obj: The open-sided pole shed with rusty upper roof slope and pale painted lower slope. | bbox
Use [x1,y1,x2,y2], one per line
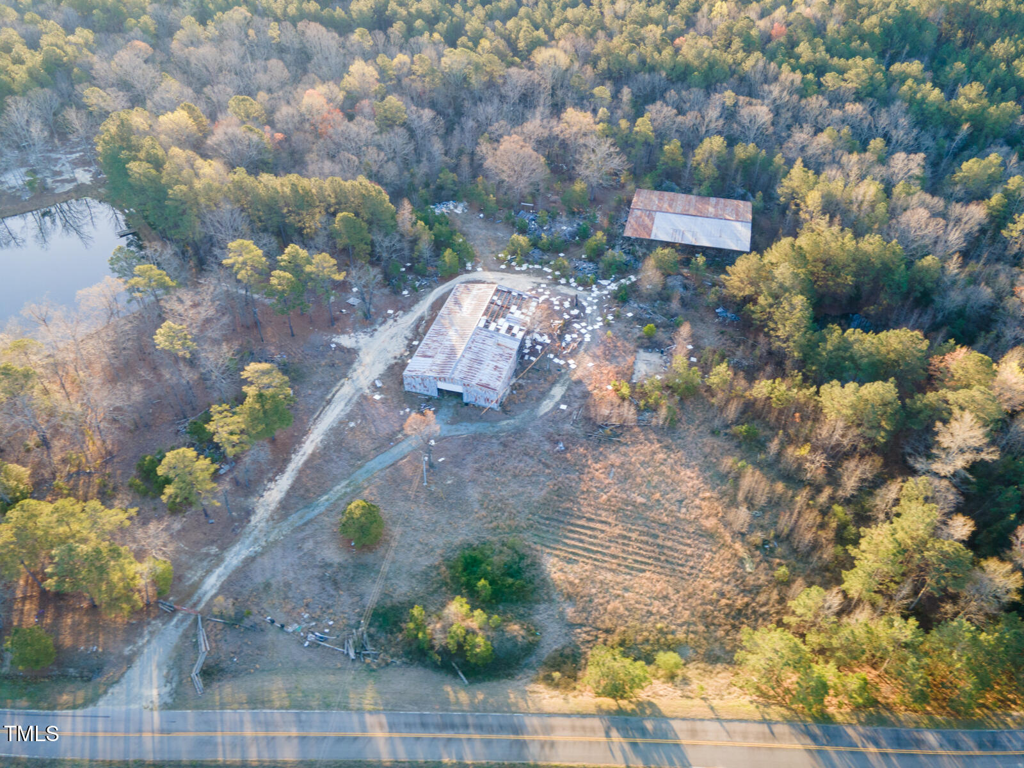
[623,188,751,262]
